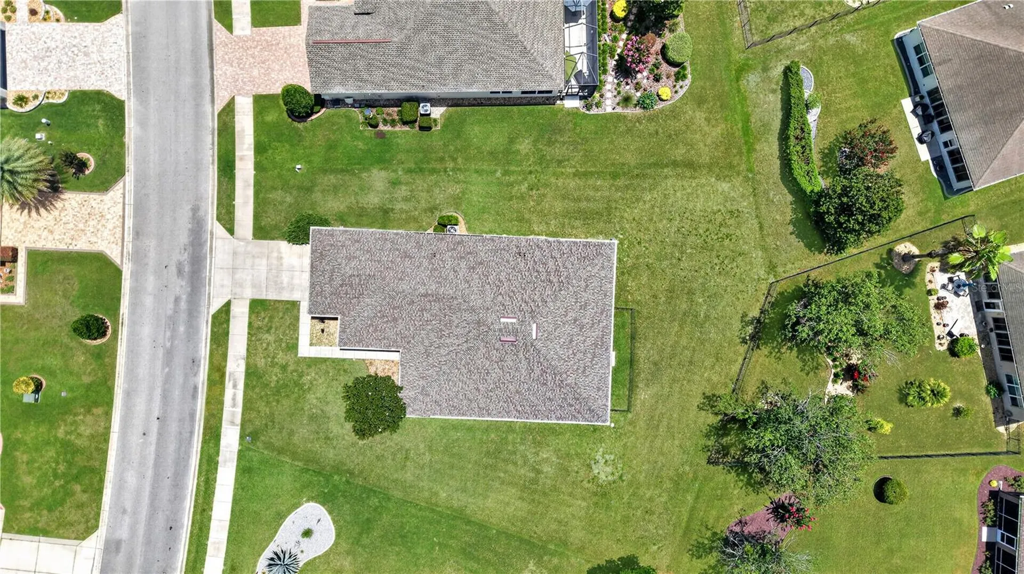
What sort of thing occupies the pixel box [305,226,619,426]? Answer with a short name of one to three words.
house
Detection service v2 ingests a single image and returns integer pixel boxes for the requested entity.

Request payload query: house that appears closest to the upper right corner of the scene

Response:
[901,0,1024,192]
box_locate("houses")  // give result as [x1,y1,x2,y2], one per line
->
[994,485,1024,574]
[981,255,1024,421]
[304,0,575,101]
[305,226,619,426]
[901,0,1024,192]
[0,14,8,109]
